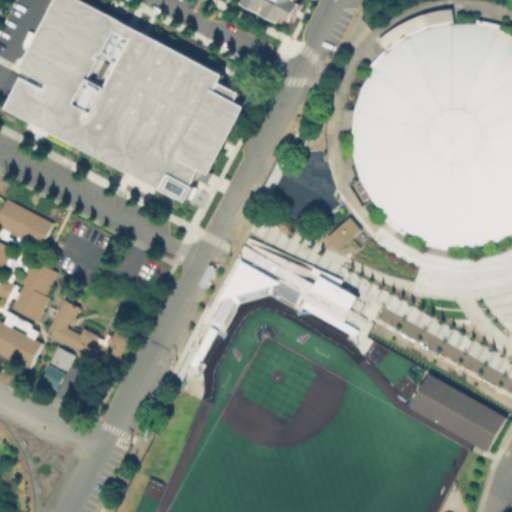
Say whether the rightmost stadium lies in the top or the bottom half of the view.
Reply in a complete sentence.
Seen from above, the rightmost stadium lies in the top half of the view.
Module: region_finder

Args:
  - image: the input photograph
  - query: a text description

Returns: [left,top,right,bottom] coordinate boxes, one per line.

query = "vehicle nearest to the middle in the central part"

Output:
[200,264,216,288]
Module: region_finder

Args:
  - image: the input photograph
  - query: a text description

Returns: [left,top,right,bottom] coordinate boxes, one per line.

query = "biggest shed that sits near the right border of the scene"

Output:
[410,374,507,452]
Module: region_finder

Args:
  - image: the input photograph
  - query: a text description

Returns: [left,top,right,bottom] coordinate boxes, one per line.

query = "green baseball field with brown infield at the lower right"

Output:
[157,297,484,512]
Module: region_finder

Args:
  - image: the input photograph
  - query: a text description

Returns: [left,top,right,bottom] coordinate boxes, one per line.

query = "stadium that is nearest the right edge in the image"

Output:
[347,25,512,248]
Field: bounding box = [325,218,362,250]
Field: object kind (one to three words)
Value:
building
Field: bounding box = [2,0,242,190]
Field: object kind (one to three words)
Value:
building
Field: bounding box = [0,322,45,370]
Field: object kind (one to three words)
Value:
house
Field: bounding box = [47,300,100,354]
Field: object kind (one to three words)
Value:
house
